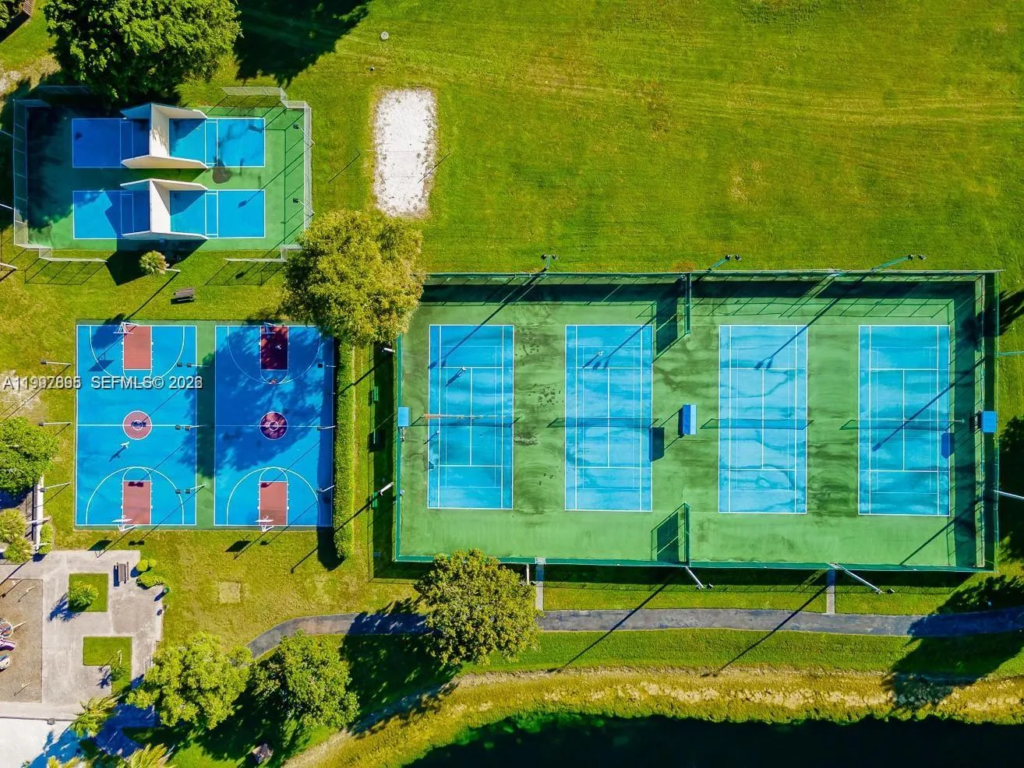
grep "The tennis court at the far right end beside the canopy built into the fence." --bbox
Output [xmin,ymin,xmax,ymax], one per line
[859,325,950,516]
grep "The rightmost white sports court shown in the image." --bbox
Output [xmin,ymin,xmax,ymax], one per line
[372,86,438,217]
